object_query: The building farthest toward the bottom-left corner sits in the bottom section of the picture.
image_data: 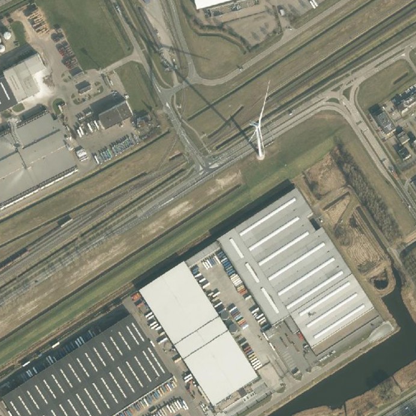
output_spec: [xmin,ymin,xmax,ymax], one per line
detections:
[1,314,173,416]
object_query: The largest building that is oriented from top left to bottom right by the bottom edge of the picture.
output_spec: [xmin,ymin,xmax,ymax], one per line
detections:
[139,261,260,409]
